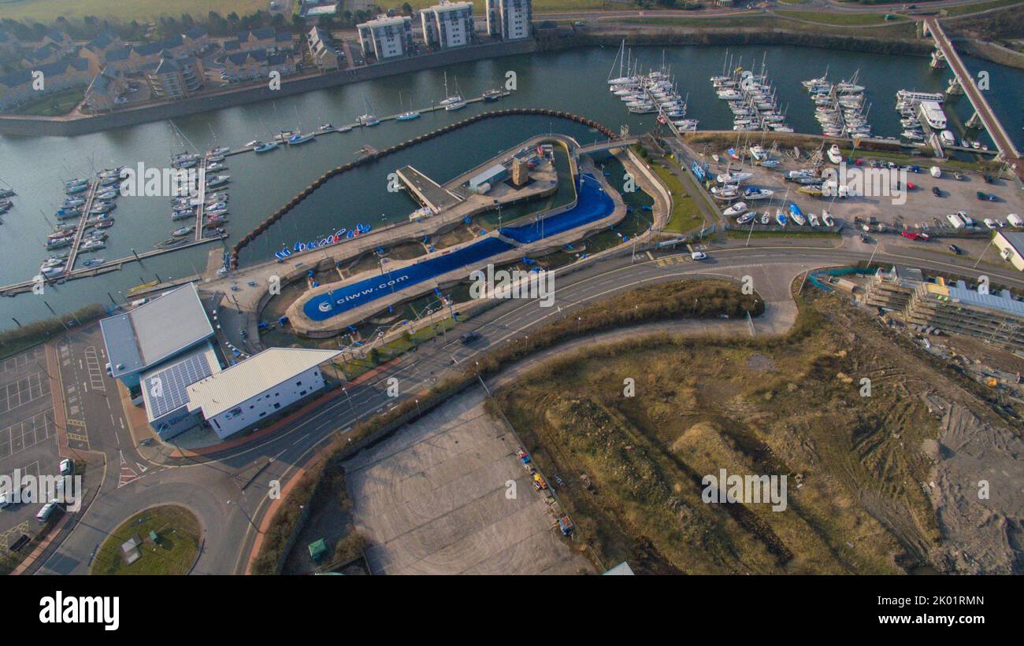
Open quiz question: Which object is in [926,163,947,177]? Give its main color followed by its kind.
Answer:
white camper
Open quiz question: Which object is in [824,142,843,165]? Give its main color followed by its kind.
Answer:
white boat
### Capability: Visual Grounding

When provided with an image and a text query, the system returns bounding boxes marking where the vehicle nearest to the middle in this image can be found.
[458,327,479,345]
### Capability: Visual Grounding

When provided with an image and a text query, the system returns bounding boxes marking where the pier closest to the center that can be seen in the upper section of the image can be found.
[395,164,464,213]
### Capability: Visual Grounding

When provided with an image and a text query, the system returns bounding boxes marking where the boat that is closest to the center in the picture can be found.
[409,206,433,220]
